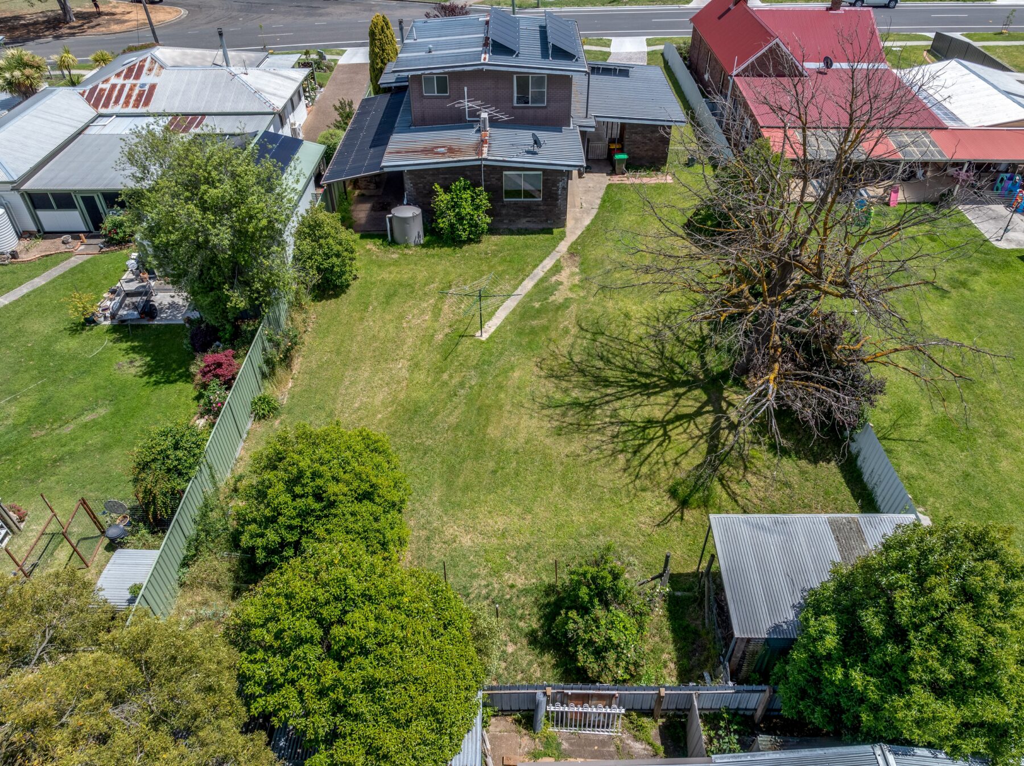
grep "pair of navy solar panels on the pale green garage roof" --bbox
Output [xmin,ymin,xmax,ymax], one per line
[229,131,308,202]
